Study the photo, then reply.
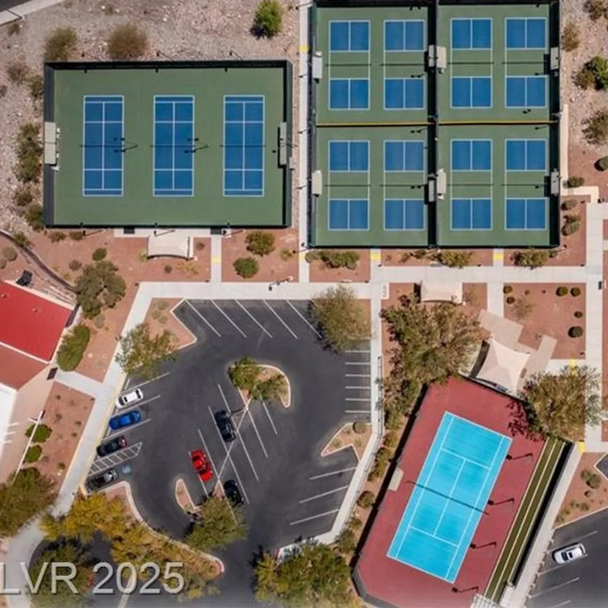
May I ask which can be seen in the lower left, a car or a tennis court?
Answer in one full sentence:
There is a car in the lower left.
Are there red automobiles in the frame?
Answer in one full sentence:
Yes, there's a red automobile down there.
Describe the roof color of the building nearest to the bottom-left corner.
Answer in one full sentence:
From above, the roof of the building nearest to the bottom-left corner looks red.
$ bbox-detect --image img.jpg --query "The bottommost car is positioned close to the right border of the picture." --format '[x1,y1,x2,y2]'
[553,543,587,565]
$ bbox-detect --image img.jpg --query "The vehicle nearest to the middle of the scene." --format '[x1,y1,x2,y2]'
[214,408,237,442]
